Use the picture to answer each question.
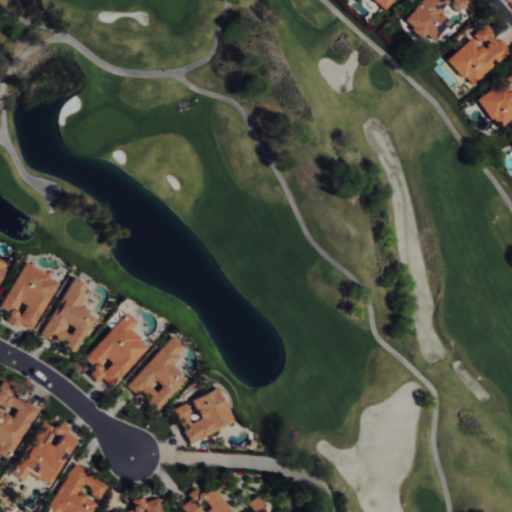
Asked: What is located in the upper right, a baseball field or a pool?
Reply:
pool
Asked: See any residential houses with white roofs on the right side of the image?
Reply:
No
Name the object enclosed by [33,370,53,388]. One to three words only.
vehicle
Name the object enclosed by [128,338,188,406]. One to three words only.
house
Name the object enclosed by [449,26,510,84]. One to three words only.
house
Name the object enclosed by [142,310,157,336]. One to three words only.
swimming pool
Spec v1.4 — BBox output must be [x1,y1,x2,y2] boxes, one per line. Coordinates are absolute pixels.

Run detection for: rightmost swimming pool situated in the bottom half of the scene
[227,432,249,446]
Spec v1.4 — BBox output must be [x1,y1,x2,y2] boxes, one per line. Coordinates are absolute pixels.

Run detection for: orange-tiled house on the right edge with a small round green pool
[478,73,512,126]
